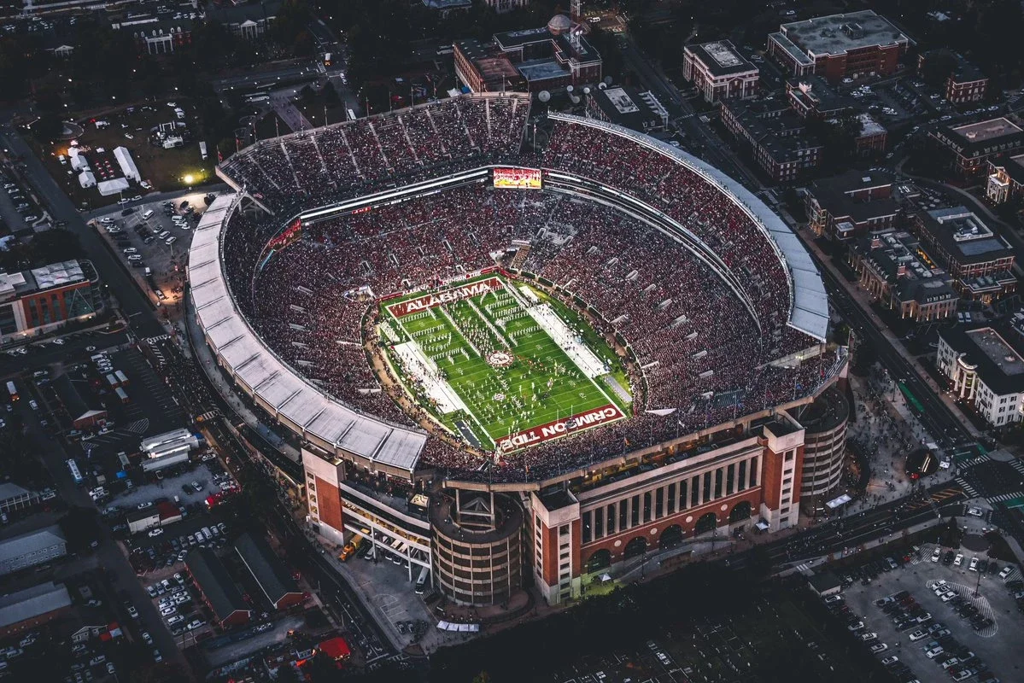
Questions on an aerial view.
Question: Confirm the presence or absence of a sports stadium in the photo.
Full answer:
Yes, the image includes a sports stadium.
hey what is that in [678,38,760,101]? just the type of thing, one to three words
building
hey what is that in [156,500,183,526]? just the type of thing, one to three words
shed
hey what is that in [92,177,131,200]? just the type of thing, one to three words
tent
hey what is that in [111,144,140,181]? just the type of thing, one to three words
tent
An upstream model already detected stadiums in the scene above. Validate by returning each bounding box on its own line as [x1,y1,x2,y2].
[184,90,855,610]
